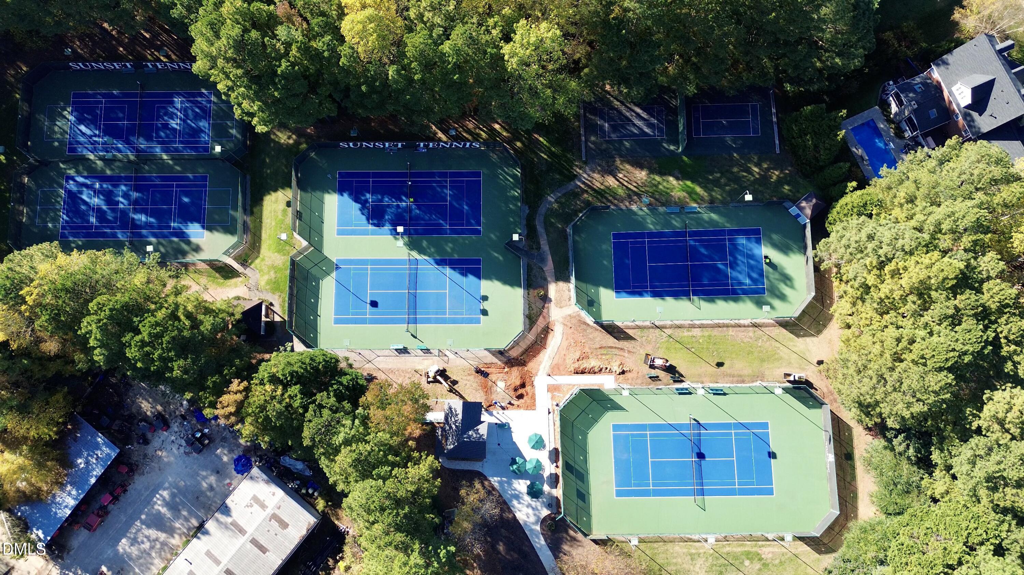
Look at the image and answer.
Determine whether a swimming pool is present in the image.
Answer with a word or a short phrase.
Yes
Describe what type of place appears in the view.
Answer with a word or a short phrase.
sports ground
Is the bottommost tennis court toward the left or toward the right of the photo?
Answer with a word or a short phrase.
right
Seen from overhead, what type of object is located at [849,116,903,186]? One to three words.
swimming pool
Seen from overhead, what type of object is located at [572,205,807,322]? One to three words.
tennis court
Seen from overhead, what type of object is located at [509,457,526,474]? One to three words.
umbrella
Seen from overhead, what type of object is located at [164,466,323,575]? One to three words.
building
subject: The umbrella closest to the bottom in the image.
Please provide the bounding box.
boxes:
[527,482,543,499]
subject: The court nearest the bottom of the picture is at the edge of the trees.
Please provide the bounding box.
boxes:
[560,387,830,537]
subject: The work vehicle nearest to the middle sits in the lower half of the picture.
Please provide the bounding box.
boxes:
[471,364,493,382]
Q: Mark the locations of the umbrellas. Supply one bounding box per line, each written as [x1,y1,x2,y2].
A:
[528,433,545,450]
[527,482,543,499]
[509,457,526,474]
[526,457,543,475]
